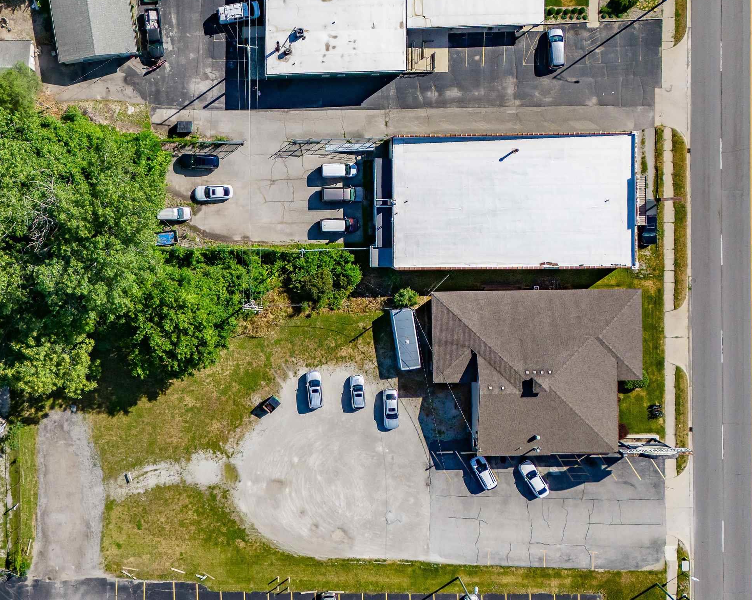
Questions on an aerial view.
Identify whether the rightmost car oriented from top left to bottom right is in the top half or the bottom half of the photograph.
bottom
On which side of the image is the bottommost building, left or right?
right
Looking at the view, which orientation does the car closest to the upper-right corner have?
vertically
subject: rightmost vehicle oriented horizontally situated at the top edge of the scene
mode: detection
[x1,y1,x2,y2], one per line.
[216,0,262,25]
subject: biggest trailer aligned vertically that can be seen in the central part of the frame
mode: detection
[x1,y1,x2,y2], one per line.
[387,308,421,373]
